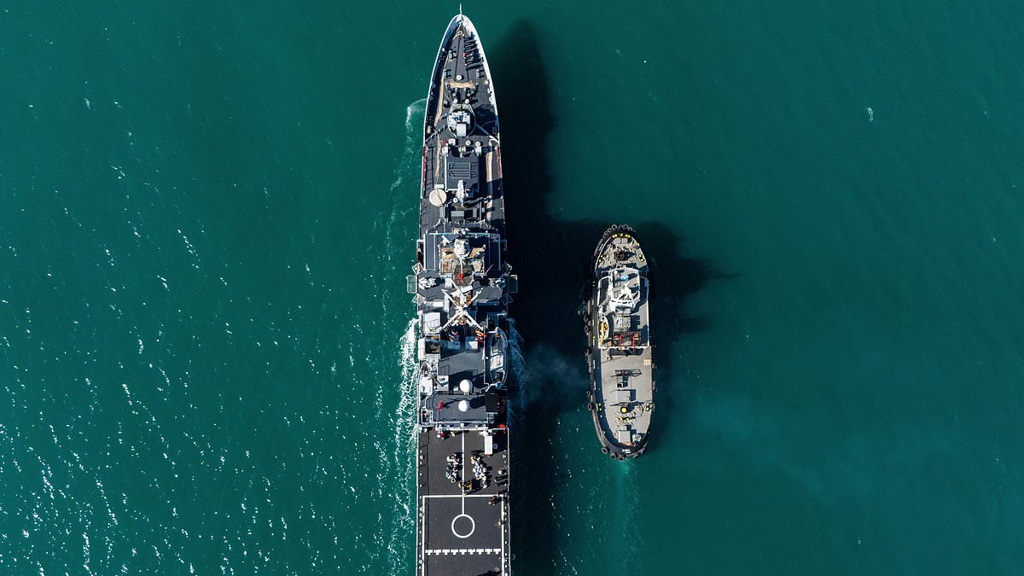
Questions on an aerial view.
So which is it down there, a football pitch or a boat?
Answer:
boat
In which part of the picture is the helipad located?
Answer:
bottom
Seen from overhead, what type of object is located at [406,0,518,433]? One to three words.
ship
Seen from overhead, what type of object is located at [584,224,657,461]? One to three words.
boat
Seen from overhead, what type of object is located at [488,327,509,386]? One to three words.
boat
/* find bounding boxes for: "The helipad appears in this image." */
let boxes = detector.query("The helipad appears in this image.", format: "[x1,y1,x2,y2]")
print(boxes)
[416,430,511,576]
